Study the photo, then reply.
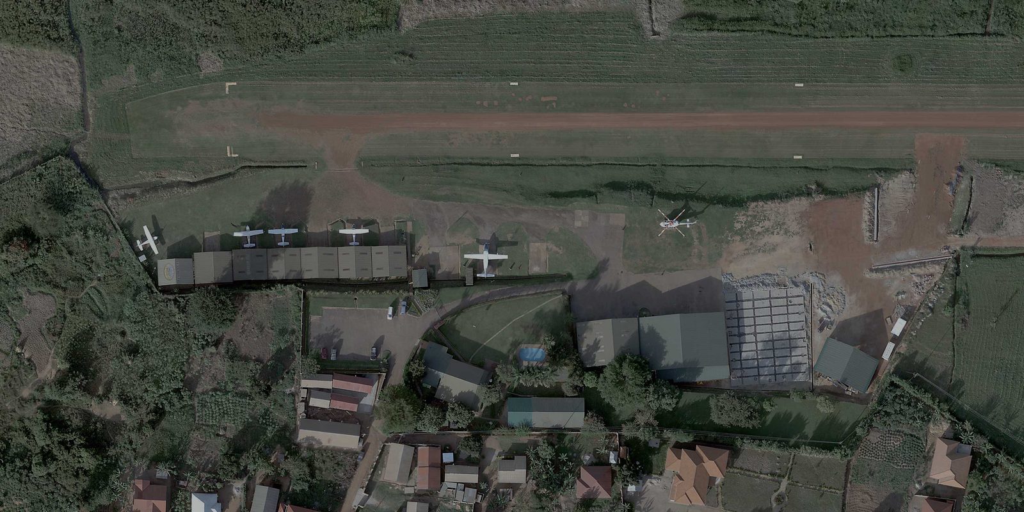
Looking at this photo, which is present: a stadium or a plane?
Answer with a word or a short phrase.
plane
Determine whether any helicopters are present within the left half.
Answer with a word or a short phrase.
No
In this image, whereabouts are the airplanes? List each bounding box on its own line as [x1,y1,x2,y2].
[268,223,298,246]
[339,224,369,245]
[464,243,508,279]
[233,225,263,247]
[135,226,158,254]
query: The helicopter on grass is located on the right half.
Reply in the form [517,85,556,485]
[655,209,696,238]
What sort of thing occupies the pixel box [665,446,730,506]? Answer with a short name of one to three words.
house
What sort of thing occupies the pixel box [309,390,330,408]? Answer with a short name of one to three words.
shed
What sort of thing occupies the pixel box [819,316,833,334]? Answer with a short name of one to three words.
vehicle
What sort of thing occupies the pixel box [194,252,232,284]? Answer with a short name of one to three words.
hangar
